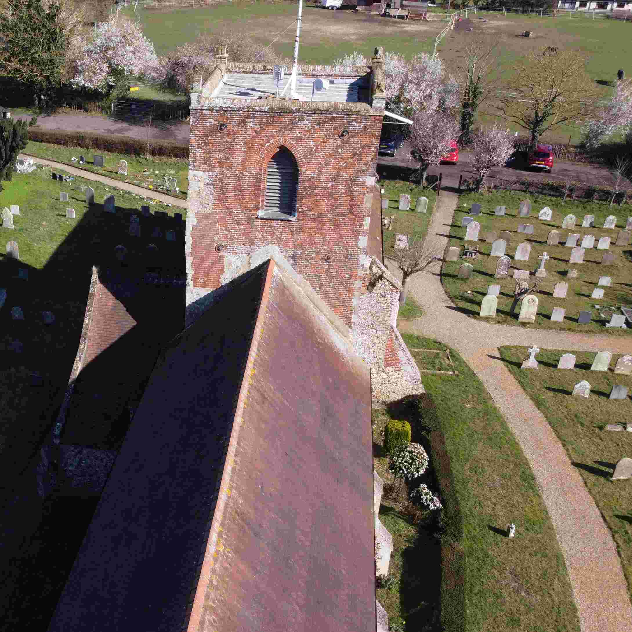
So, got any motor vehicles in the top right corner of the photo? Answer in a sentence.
Yes, looking in the top right corner of the photo, one can make out a motor vehicle.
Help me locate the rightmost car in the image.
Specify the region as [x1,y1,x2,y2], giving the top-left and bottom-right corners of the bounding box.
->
[529,143,561,171]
